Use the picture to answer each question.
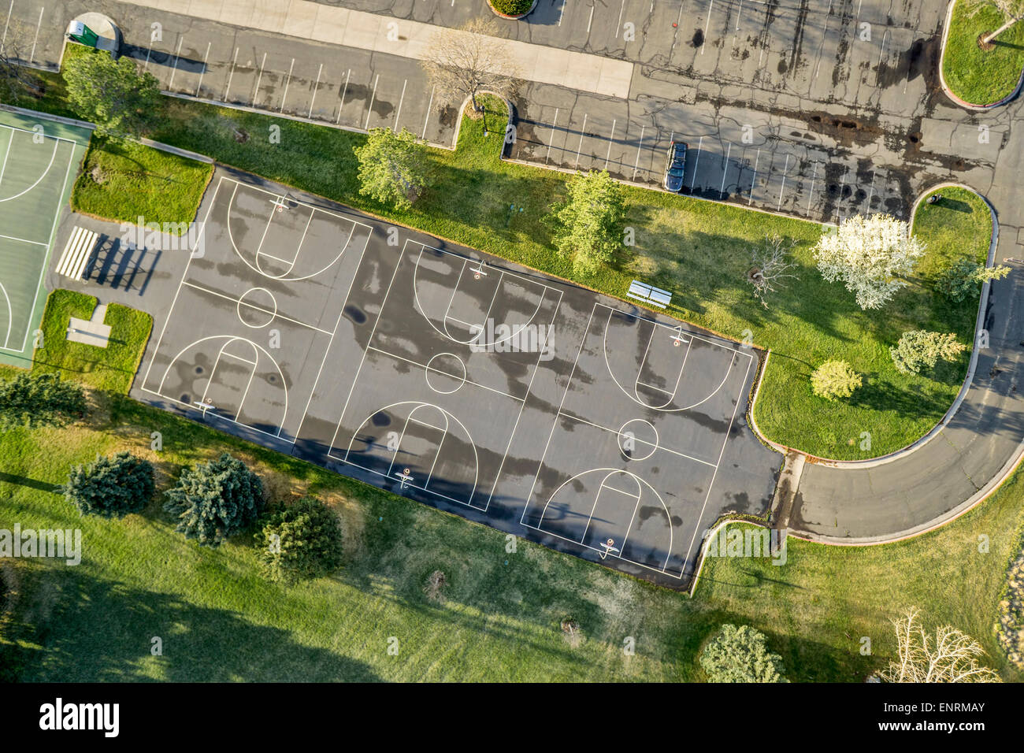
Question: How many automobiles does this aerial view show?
one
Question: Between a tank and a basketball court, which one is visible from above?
basketball court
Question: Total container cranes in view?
0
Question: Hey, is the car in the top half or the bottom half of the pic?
top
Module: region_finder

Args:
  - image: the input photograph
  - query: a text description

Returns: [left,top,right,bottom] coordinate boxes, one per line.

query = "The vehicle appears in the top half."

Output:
[661,140,690,193]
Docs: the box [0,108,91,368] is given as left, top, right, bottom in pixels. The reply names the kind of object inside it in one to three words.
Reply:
basketball court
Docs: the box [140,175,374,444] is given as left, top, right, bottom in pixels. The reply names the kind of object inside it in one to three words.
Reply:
basketball court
